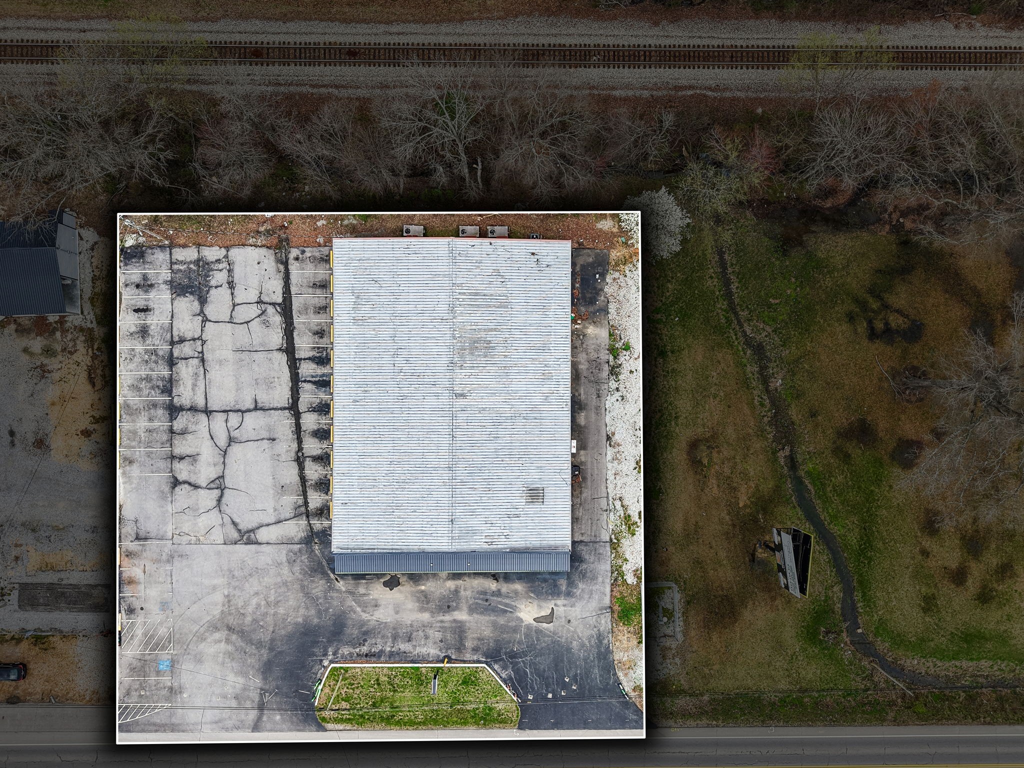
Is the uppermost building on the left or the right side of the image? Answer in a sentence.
It is on the left.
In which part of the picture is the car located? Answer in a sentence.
The car is in the bottom left part of the image.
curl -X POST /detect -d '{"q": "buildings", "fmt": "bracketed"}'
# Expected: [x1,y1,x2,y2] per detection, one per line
[0,209,82,319]
[332,236,572,573]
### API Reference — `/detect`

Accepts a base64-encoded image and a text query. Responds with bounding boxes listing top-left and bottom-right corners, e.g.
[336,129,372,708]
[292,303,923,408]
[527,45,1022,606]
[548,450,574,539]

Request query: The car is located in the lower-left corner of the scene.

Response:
[0,662,25,684]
